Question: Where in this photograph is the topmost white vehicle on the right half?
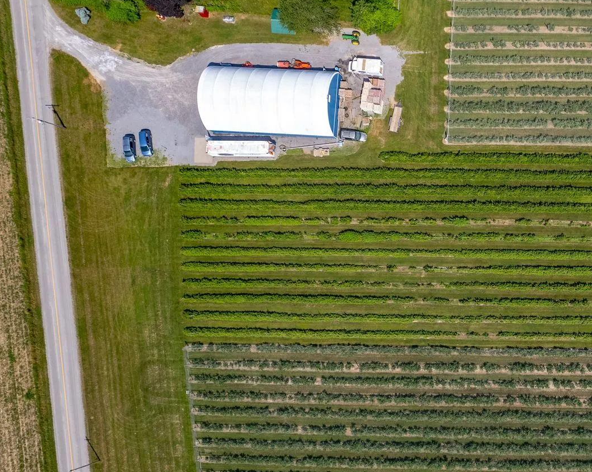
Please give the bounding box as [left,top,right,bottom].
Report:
[350,55,386,74]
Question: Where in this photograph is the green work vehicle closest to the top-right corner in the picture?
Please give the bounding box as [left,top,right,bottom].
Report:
[339,32,362,46]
